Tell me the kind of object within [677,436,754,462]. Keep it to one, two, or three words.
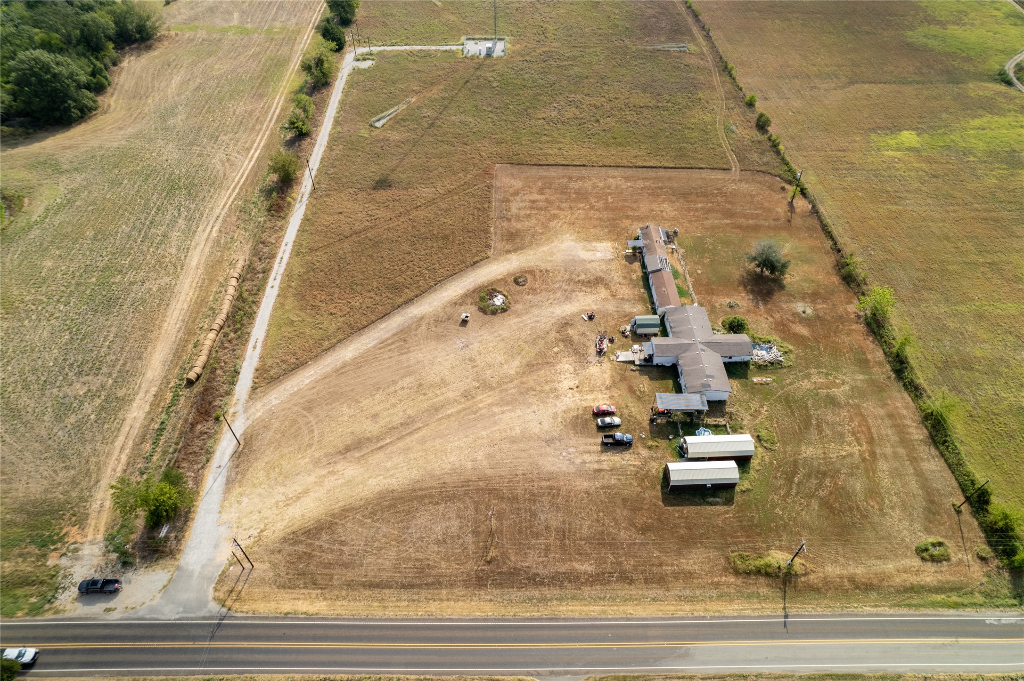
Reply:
barn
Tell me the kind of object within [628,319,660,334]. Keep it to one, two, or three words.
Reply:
shed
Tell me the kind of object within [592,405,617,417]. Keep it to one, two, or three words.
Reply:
vehicle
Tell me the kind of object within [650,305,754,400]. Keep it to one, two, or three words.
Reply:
house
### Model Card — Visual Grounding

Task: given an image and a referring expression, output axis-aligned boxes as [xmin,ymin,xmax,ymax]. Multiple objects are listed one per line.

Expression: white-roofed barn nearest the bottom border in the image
[665,464,739,490]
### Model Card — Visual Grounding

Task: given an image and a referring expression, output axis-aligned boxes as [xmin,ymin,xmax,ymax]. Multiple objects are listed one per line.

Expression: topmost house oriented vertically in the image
[639,223,671,279]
